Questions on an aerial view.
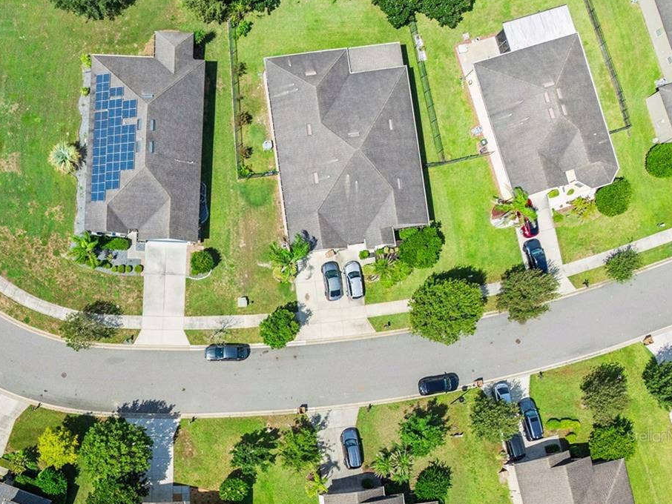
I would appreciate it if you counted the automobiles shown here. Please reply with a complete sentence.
The photo contains 10 automobiles.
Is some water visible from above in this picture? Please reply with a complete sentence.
No, water can't be seen anywhere here.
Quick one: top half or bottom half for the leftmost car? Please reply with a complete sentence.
The leftmost car sits in the bottom half of the picture.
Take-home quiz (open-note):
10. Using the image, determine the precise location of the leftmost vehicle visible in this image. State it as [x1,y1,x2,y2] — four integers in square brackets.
[205,343,248,363]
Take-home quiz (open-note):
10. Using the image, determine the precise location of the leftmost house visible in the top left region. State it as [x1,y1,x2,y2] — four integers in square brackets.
[83,30,206,243]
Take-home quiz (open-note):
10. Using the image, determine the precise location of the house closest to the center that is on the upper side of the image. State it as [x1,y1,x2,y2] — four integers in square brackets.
[263,43,430,251]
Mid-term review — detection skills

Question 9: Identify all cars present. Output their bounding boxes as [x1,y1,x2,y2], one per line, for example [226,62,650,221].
[518,218,539,242]
[519,239,549,280]
[320,260,343,304]
[488,375,512,419]
[415,372,459,395]
[503,429,531,465]
[338,426,363,470]
[518,397,546,443]
[341,258,365,302]
[205,343,248,363]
